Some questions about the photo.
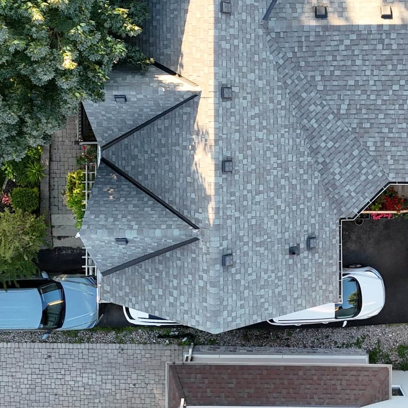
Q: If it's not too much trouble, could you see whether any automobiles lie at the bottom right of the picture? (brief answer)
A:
Yes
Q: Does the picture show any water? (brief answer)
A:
No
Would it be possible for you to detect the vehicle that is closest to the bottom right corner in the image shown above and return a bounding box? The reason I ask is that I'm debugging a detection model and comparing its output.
[272,266,386,327]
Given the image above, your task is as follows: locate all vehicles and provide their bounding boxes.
[124,307,185,332]
[0,270,103,336]
[272,266,386,327]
